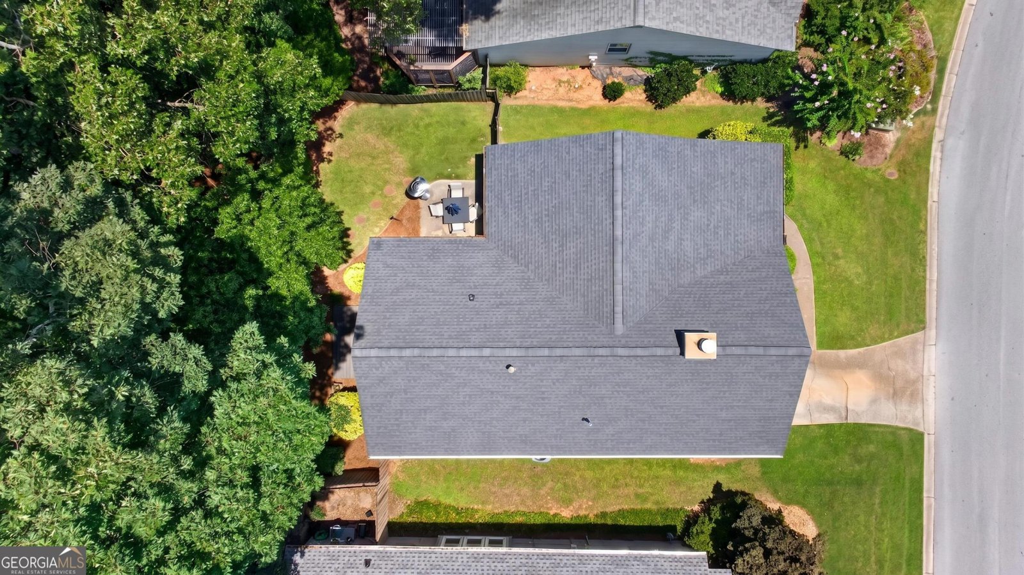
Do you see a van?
No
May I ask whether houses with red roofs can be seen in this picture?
No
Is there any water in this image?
No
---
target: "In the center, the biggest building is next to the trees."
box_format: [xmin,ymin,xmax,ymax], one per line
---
[351,131,812,460]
